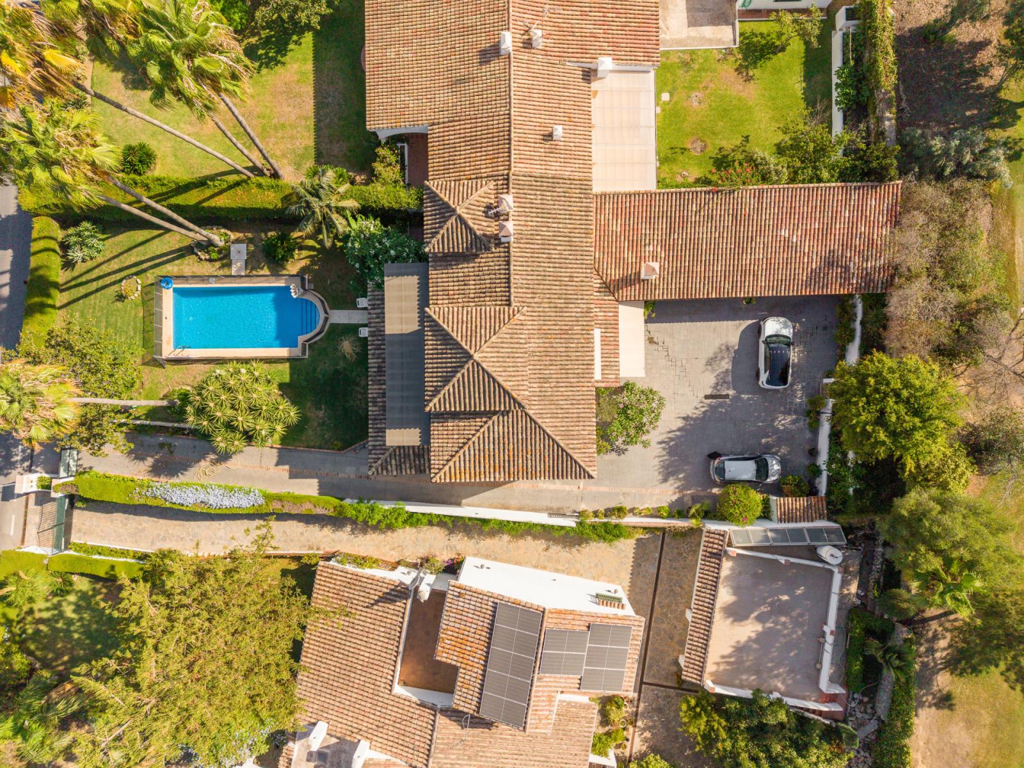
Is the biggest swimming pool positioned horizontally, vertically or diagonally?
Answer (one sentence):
The biggest swimming pool has been laid out horizontally relative to the frame.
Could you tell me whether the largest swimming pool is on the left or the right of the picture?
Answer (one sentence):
The largest swimming pool sits on the left side.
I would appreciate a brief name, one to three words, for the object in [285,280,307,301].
fountain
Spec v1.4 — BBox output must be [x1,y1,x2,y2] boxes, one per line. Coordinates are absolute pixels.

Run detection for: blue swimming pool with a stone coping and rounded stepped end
[162,275,330,359]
